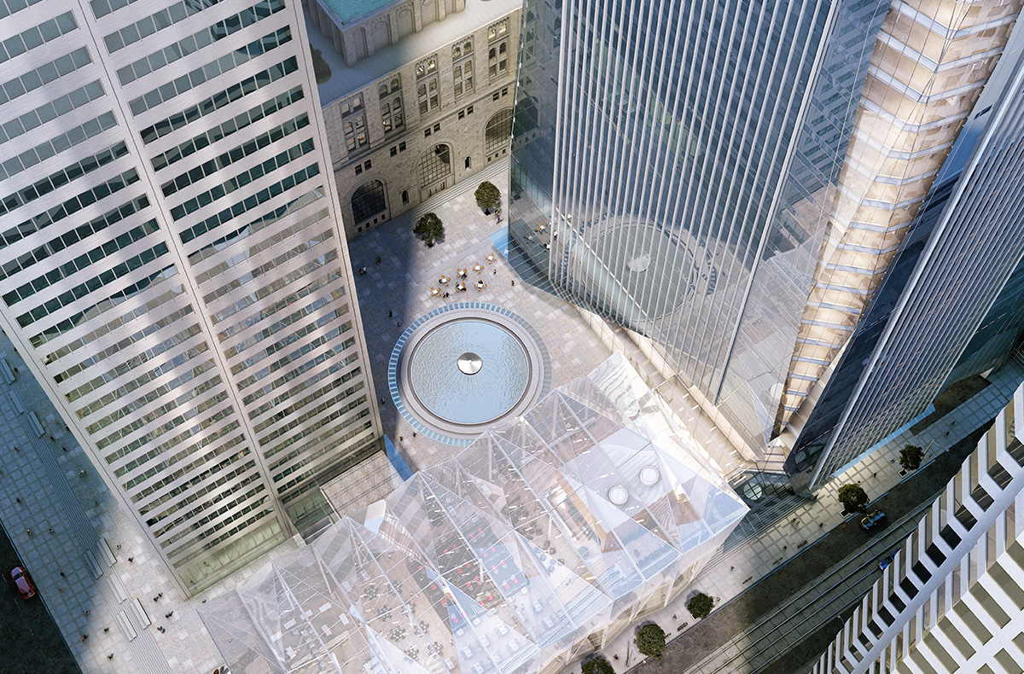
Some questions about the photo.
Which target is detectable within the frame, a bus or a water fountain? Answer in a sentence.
The one in the frame is a water fountain.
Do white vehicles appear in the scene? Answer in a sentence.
No, the picture doesn't show any white vehicle.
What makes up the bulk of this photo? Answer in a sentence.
What you mostly see from above here is buildings.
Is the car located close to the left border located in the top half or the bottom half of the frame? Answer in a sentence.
The car located close to the left border is in the bottom half of the image.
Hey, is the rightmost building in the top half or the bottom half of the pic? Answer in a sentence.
The rightmost building sits in the bottom half of the picture.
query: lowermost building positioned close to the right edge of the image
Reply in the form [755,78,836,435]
[804,378,1024,674]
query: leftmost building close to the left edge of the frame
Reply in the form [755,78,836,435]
[0,0,389,603]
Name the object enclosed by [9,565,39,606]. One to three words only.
car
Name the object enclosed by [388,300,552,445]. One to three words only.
fountain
